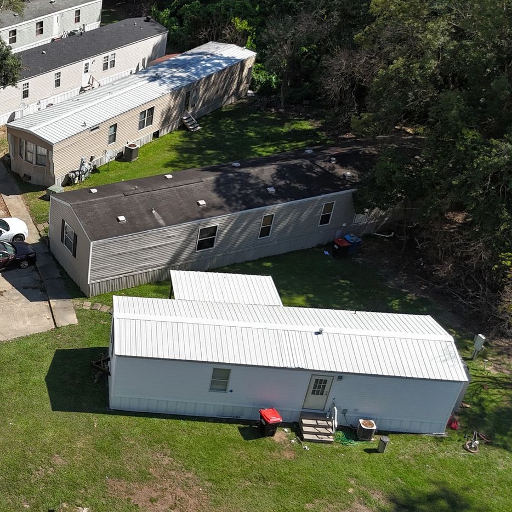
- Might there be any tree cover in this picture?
Yes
